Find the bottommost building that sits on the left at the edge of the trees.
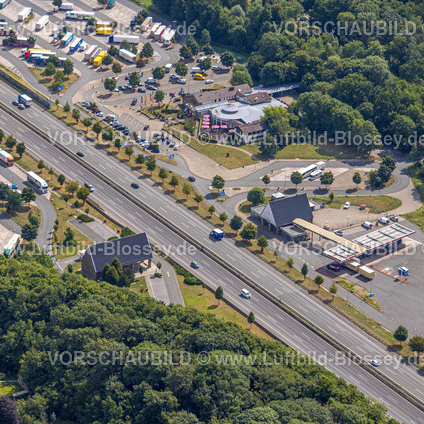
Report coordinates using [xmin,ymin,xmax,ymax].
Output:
[79,231,156,279]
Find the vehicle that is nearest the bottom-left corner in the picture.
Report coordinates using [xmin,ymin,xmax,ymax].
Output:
[4,234,20,260]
